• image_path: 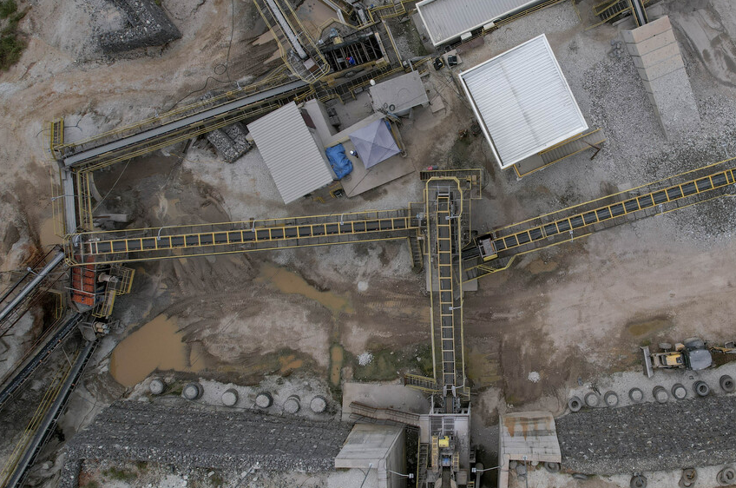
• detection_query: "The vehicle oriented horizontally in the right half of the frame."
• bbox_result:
[641,337,736,377]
